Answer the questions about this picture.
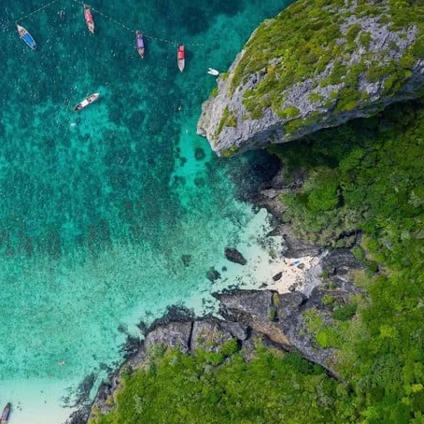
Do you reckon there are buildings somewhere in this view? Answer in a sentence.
No, I can see no building in this picture.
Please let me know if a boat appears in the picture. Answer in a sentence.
Yes, a boat can be made out from above.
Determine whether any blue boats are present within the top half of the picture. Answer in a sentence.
Yes, there is a blue boat within the top half of the picture.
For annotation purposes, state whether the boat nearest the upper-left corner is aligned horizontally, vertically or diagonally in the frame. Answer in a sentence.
From this overhead view, the boat nearest the upper-left corner appears to run diagonally.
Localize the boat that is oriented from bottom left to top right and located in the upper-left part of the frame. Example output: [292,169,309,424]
[71,91,100,112]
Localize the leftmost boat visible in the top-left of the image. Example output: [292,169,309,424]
[16,21,37,50]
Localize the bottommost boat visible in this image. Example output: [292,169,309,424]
[0,394,15,424]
